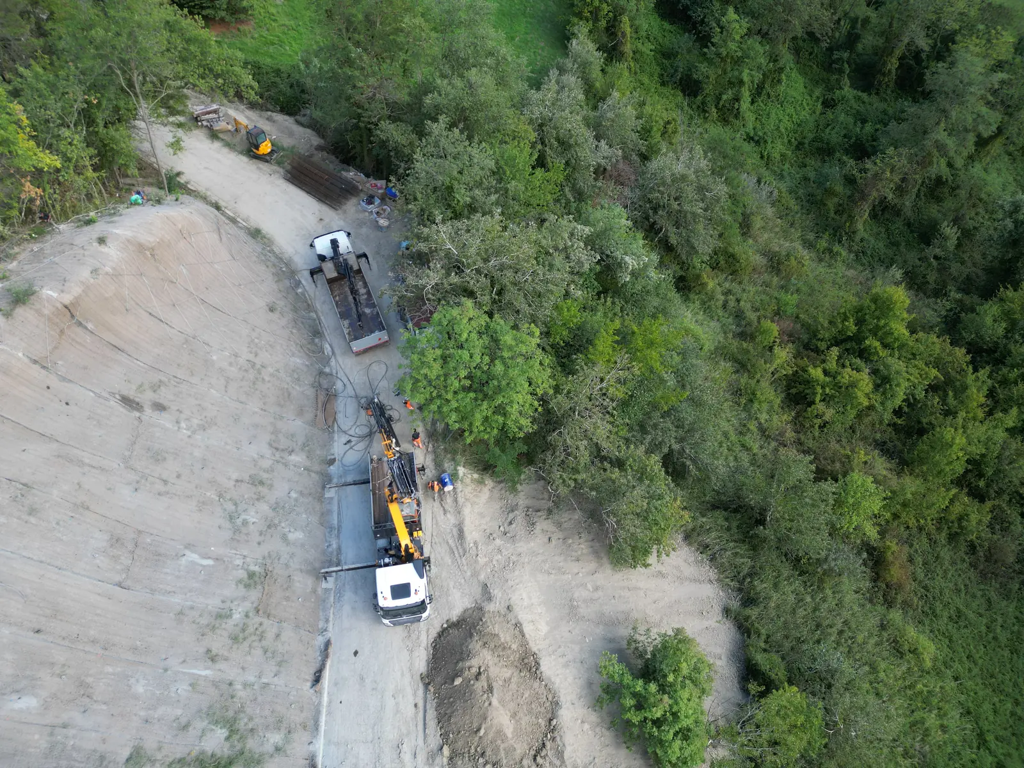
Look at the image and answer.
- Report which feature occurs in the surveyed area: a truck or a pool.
truck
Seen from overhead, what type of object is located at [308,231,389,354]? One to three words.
truck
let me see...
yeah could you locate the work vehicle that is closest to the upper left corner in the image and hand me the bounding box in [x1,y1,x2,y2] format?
[236,111,288,168]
